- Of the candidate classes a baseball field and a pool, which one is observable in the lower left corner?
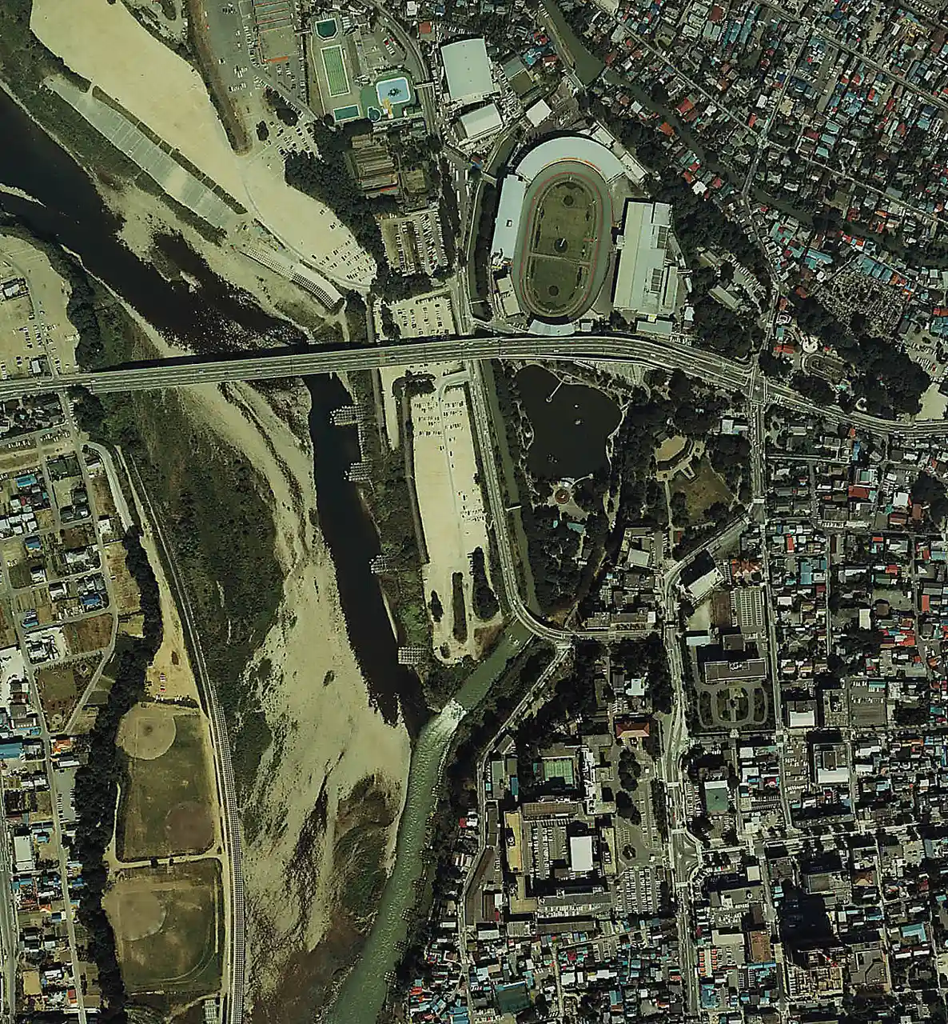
baseball field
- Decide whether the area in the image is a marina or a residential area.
residential area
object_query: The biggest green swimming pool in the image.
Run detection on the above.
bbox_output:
[320,44,350,97]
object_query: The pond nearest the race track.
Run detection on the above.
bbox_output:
[516,365,622,478]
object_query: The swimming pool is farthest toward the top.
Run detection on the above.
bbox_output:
[315,18,339,39]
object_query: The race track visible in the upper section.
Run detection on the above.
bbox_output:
[515,162,616,321]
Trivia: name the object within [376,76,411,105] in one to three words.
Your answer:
swimming pool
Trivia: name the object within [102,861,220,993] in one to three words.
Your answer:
baseball field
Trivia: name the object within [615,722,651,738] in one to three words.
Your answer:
building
